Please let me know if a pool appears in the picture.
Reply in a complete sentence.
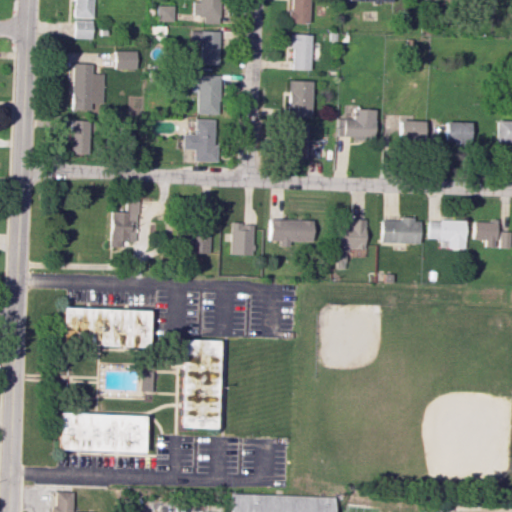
Yes, a pool can be made out from above.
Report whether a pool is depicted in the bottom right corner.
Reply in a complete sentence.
No, looking in the bottom right corner, there is no pool.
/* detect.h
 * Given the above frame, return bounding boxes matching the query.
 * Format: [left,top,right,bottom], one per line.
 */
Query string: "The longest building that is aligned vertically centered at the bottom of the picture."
[180,340,224,430]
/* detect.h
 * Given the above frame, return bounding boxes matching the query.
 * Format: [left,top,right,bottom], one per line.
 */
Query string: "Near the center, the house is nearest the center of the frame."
[229,222,256,256]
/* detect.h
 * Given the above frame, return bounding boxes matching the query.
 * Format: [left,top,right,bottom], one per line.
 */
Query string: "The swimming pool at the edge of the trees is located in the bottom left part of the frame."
[100,362,146,400]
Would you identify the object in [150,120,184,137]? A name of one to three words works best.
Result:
swimming pool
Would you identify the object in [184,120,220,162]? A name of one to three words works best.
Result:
house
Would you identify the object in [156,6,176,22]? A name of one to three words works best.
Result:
building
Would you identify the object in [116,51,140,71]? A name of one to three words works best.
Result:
building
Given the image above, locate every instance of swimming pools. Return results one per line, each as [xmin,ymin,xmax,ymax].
[150,120,184,137]
[150,46,162,60]
[100,362,146,400]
